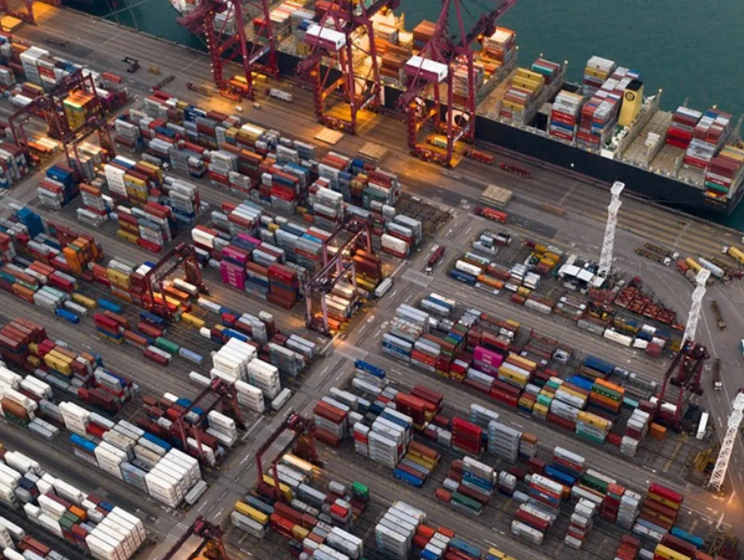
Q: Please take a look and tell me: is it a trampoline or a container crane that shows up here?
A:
container crane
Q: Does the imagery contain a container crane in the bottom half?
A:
Yes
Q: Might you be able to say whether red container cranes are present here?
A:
Yes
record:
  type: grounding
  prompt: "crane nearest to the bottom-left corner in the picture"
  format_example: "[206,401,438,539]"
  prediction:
[162,519,229,560]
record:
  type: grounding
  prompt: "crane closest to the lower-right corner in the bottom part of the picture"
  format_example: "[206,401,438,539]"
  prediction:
[653,346,711,430]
